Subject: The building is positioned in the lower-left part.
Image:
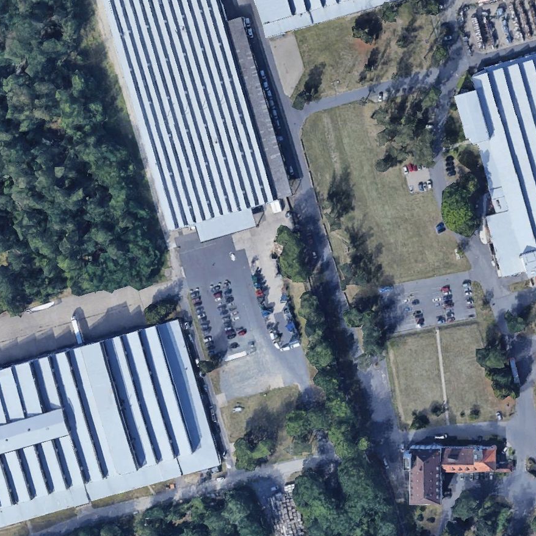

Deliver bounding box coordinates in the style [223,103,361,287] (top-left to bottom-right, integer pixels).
[0,318,222,527]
